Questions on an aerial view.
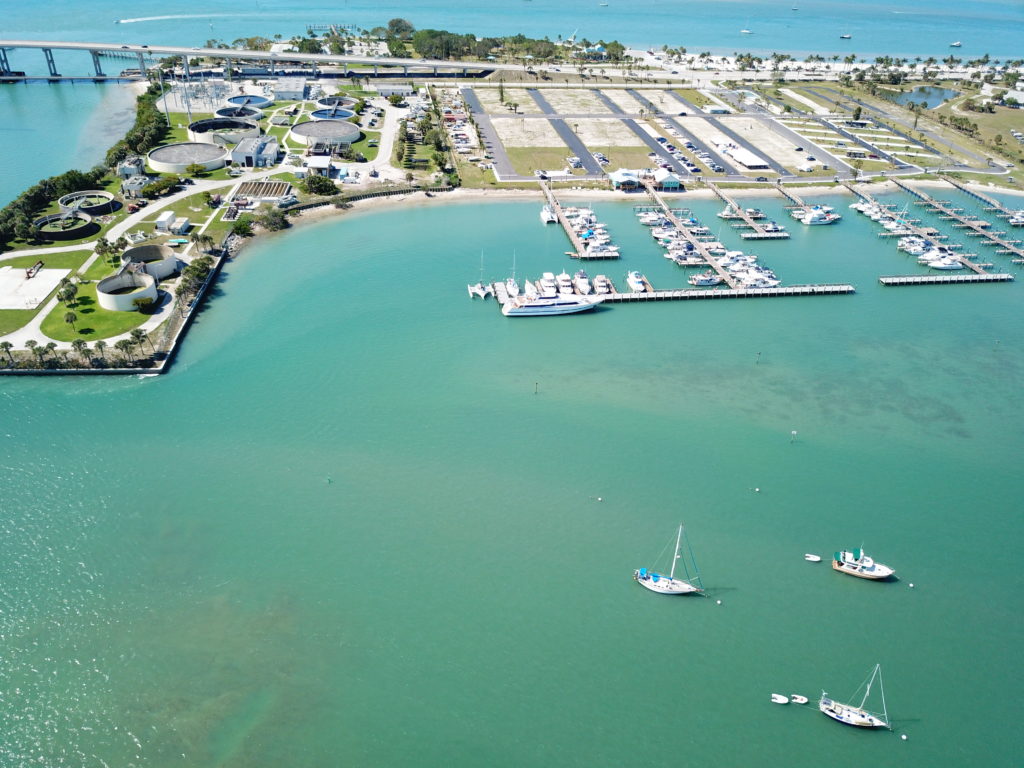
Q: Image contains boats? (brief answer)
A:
Yes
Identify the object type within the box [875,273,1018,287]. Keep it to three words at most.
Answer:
pier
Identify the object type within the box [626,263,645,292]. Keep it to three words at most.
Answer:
boat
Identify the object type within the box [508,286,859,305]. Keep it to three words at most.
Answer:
pier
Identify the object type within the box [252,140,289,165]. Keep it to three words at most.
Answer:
building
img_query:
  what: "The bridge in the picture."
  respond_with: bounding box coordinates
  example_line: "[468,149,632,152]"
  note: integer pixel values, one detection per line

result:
[0,38,492,82]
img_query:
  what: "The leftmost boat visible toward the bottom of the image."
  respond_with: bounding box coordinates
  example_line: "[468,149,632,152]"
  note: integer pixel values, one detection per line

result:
[634,523,701,596]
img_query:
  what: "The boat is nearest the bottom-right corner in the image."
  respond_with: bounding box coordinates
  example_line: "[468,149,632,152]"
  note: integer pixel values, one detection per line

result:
[820,664,899,736]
